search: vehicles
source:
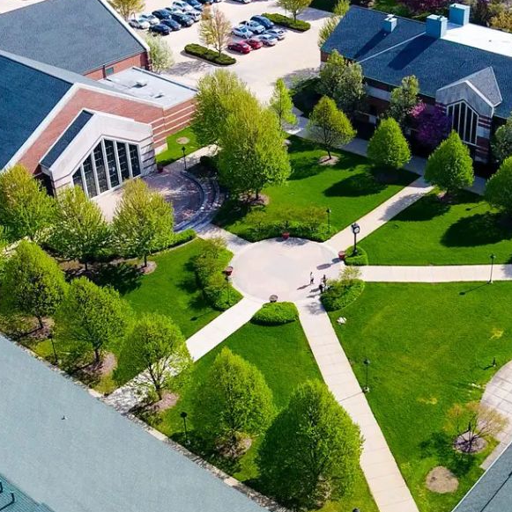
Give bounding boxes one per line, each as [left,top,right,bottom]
[129,19,152,29]
[229,41,252,53]
[170,10,194,25]
[238,18,267,32]
[243,37,266,50]
[187,0,203,8]
[230,25,254,37]
[163,4,183,13]
[151,7,170,20]
[139,13,162,25]
[159,19,182,30]
[183,6,206,21]
[256,33,281,45]
[265,28,290,39]
[149,24,172,35]
[250,12,275,26]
